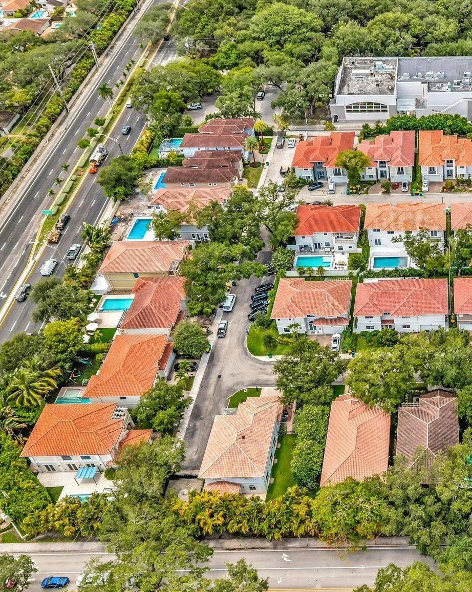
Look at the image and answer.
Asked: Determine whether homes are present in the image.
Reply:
Yes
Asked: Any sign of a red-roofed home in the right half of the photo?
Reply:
Yes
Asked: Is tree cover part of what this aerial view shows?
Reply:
Yes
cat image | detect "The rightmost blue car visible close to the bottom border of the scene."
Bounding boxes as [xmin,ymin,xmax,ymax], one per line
[38,575,73,590]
